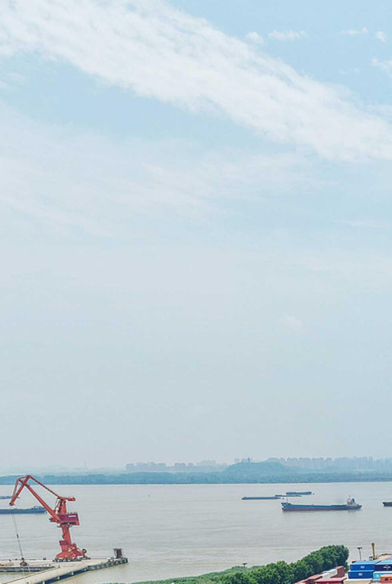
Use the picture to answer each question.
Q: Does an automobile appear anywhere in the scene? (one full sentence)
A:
No, the frame has no automobile in it.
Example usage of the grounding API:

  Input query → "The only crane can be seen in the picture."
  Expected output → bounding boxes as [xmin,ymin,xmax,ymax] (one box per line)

[6,469,84,562]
